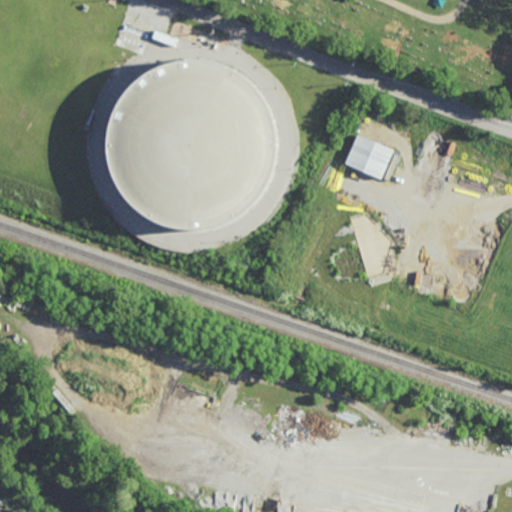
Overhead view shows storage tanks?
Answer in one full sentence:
Yes, this view includes a storage tank.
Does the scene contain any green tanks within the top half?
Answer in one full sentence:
No, looking within the top half, there is no green tank.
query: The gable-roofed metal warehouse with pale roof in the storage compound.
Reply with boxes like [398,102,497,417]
[346,135,398,180]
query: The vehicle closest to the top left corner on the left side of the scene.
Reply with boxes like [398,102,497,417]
[120,21,145,36]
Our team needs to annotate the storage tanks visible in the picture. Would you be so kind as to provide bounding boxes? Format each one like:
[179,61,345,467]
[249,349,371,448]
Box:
[106,60,276,230]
